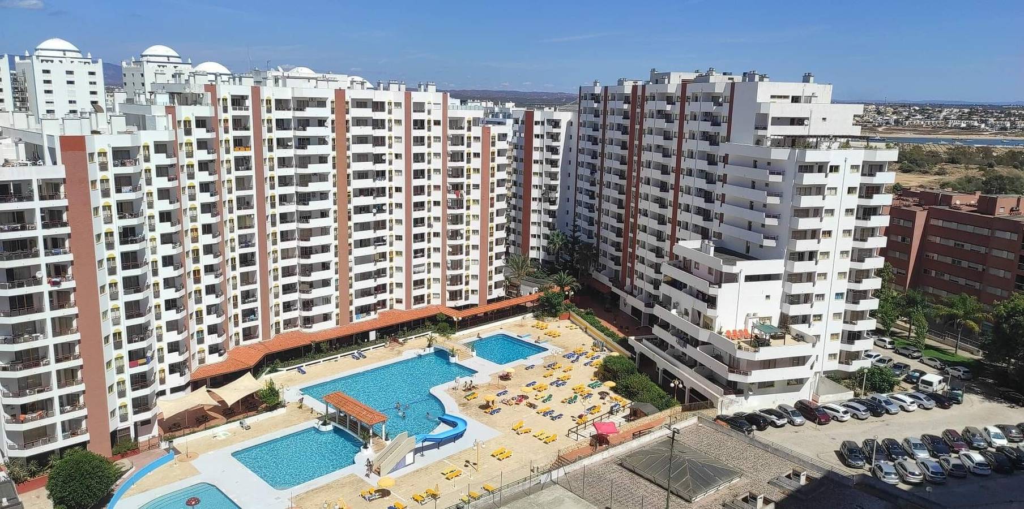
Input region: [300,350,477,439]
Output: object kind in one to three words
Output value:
swimming pool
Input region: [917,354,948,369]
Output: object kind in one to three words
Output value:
car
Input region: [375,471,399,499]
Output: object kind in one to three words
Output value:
umbrella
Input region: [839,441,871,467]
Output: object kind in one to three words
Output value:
car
